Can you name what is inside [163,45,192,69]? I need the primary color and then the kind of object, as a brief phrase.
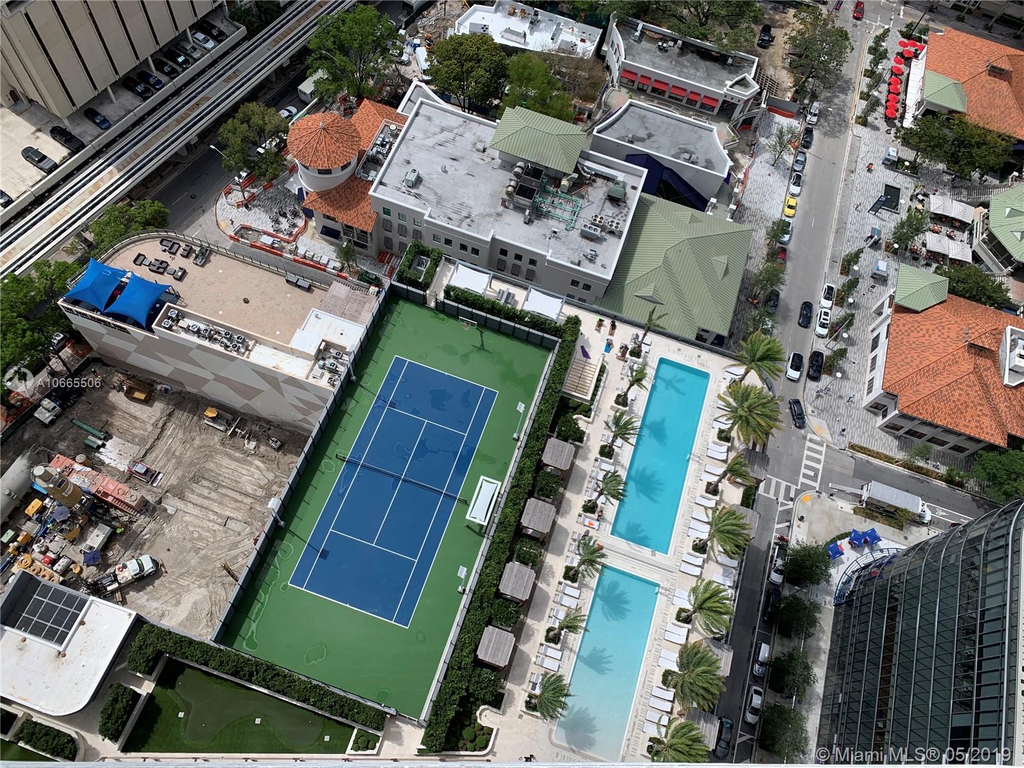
black car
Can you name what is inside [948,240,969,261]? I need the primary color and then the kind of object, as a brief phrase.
white umbrella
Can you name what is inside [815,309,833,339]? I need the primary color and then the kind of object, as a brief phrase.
white vehicle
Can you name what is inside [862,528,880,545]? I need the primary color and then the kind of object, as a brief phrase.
blue umbrella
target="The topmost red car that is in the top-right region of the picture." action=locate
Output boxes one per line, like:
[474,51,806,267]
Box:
[852,1,864,19]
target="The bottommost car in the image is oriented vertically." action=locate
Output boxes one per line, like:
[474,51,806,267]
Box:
[713,717,735,761]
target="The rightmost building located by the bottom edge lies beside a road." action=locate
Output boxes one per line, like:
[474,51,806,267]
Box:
[820,493,1024,761]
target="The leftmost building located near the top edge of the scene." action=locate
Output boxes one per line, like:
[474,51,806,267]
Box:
[0,0,228,134]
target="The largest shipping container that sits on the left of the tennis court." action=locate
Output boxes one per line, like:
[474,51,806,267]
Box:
[48,452,151,520]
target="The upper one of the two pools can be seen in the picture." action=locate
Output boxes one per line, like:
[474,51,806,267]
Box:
[604,355,712,558]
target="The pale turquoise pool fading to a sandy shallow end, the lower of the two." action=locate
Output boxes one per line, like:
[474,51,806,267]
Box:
[546,564,665,762]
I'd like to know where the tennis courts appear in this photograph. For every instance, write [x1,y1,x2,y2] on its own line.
[217,293,555,721]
